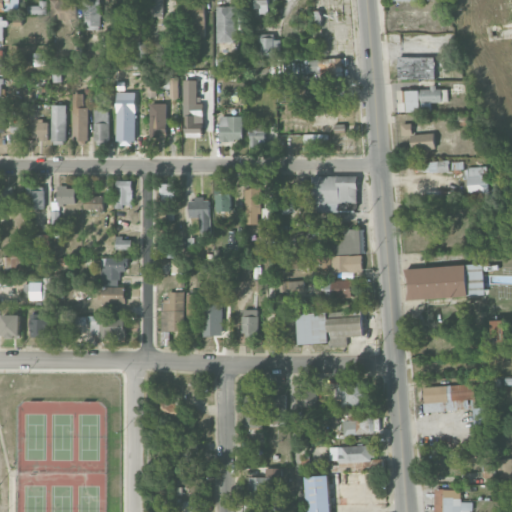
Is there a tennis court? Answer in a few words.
Yes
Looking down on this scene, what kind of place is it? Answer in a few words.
residential area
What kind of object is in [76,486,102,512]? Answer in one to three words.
tennis court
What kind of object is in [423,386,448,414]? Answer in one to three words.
building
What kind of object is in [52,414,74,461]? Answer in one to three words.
tennis court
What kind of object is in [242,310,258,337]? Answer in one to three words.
house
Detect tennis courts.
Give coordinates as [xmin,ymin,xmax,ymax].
[76,486,102,512]
[52,414,74,461]
[24,414,47,461]
[50,486,76,512]
[78,414,100,461]
[22,486,48,512]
